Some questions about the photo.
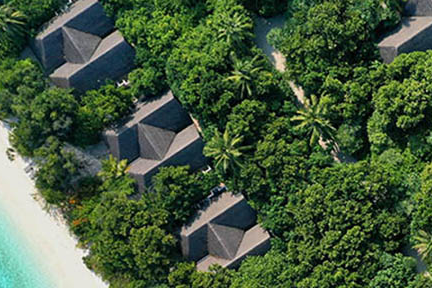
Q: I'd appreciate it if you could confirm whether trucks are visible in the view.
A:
No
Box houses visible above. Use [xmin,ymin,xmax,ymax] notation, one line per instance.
[174,190,287,288]
[371,0,432,82]
[28,0,145,105]
[104,93,219,198]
